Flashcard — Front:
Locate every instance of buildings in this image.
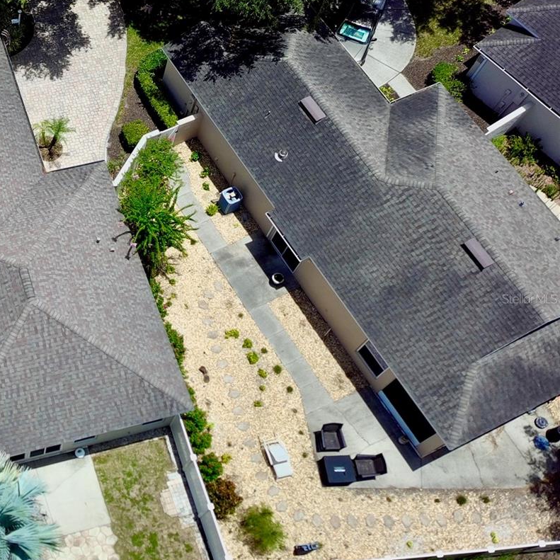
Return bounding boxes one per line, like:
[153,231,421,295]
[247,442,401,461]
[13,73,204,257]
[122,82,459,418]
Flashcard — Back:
[0,33,195,456]
[162,6,560,455]
[463,0,560,167]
